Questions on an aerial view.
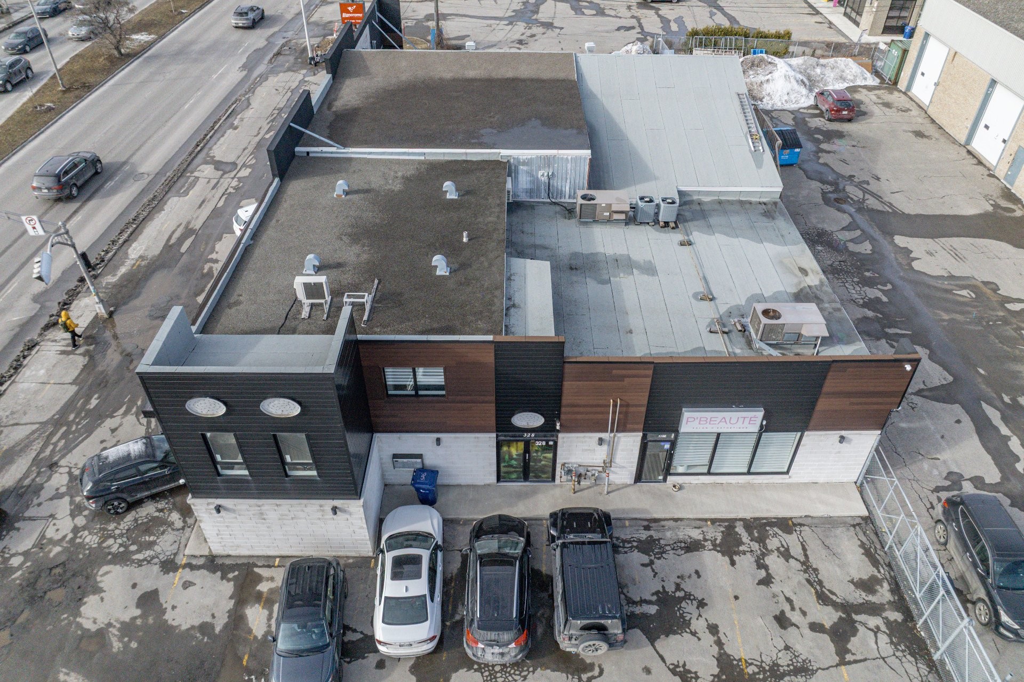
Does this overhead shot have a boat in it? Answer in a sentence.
No, this view has no boat in it.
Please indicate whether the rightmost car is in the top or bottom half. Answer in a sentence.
You can find the rightmost car in the bottom half.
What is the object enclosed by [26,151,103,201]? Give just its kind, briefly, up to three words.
car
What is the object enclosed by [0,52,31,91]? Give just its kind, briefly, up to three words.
car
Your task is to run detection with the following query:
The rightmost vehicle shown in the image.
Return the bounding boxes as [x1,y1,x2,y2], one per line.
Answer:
[935,489,1024,654]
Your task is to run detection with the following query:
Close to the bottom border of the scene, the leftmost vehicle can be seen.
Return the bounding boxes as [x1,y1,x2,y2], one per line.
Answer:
[259,553,353,682]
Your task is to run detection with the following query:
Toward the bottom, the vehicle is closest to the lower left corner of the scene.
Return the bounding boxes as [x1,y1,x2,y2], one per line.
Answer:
[71,430,178,514]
